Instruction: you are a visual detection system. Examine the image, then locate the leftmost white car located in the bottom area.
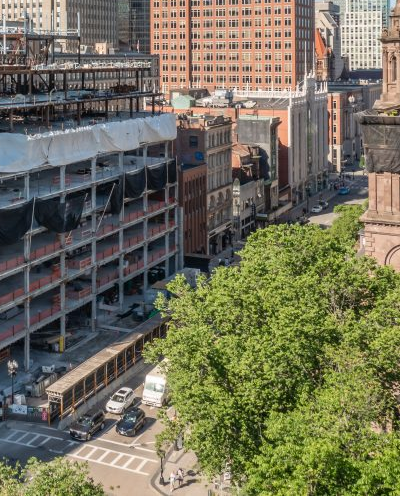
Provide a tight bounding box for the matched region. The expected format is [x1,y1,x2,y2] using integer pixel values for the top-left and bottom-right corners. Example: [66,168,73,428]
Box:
[103,386,134,413]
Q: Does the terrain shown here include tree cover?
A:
Yes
